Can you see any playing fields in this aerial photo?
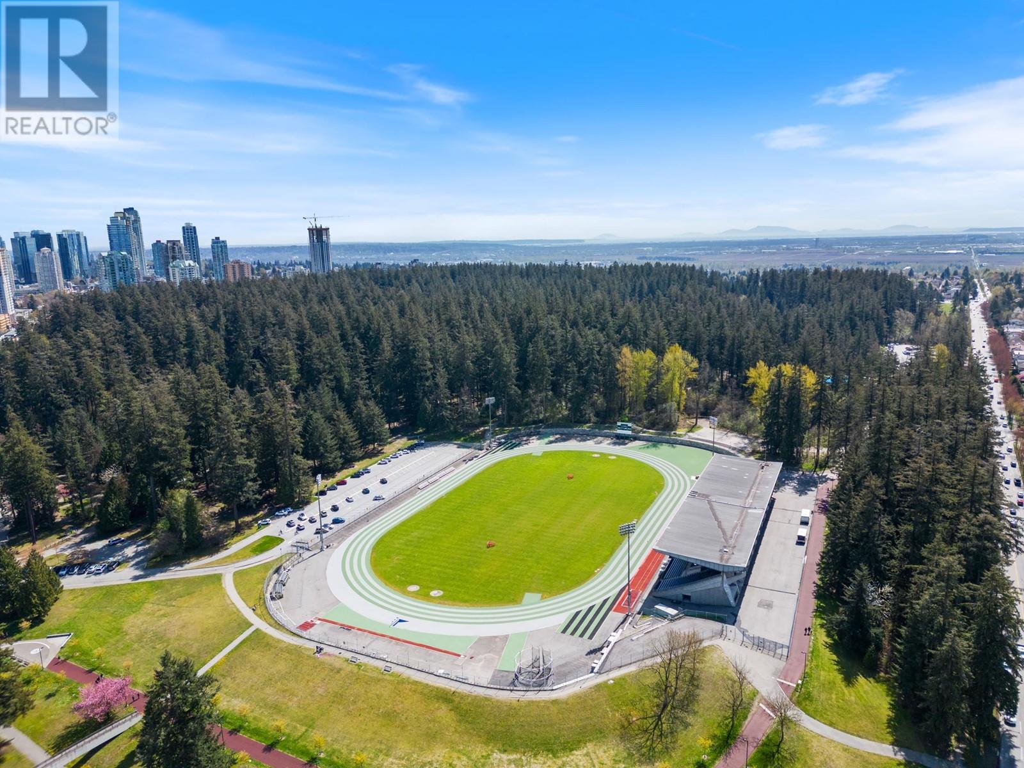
Yes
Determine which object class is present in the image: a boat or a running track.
running track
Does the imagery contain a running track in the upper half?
No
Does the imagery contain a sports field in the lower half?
Yes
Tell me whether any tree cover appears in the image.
Yes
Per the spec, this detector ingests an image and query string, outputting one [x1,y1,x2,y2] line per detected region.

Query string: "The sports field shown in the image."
[376,451,661,605]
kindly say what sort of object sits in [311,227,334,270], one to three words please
building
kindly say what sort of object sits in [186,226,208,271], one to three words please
building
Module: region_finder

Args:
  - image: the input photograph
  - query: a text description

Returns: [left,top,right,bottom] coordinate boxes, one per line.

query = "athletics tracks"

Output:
[339,444,690,627]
